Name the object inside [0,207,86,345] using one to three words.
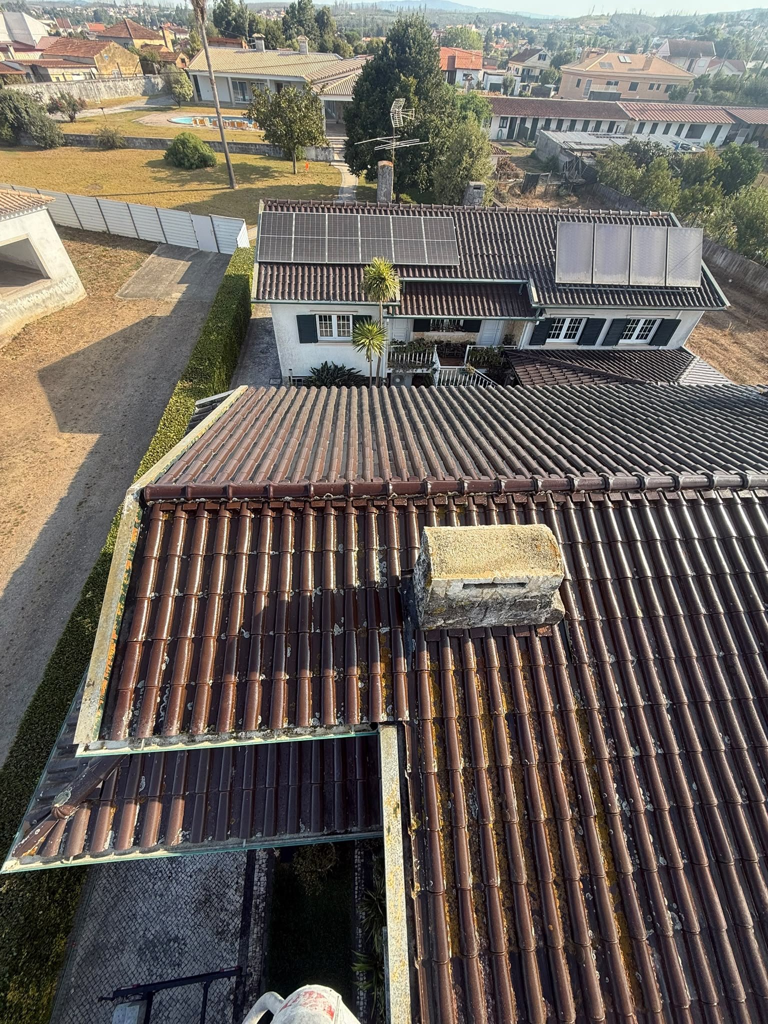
house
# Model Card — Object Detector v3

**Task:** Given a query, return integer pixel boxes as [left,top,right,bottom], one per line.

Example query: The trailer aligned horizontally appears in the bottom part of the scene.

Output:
[86,965,257,1024]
